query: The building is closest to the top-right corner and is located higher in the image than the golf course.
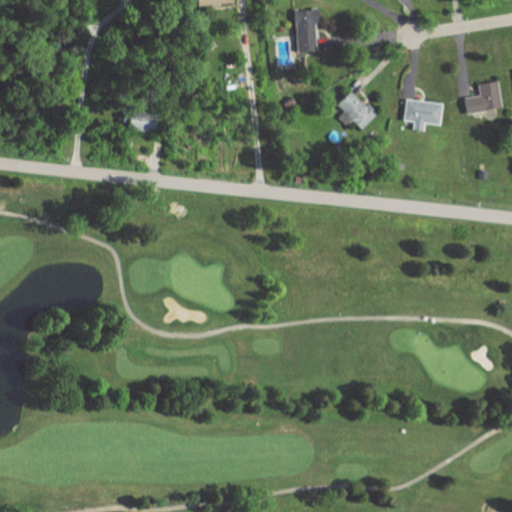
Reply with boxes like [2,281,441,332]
[465,81,504,114]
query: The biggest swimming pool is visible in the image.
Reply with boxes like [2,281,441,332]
[274,34,298,66]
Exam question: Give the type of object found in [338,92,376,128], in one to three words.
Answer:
house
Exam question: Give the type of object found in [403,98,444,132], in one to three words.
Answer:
house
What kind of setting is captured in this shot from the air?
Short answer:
golf course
